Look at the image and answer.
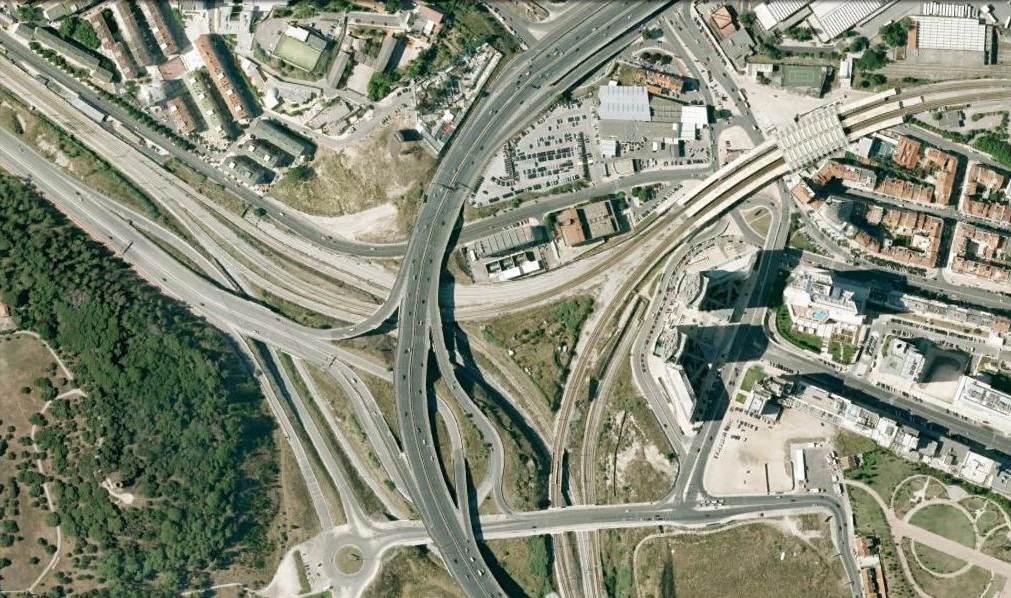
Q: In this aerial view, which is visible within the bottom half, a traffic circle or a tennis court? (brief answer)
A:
traffic circle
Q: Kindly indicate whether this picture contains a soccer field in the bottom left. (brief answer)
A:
No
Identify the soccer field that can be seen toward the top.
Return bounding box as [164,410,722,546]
[272,35,323,75]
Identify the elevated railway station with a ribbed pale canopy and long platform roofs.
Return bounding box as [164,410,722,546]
[633,75,1011,266]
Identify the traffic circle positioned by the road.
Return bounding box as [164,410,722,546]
[320,532,376,587]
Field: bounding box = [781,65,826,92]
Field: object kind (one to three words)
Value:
tennis court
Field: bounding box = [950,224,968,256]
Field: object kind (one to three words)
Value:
building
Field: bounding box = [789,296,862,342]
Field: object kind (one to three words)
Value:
building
